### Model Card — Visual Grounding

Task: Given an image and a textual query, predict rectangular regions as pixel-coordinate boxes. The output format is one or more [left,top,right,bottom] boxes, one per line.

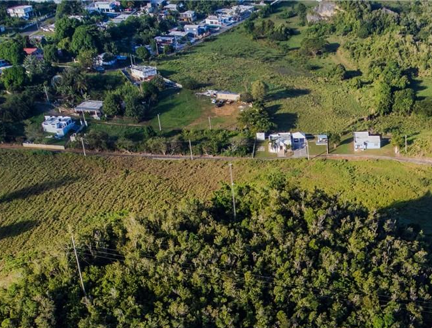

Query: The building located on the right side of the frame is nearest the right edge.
[351,129,382,150]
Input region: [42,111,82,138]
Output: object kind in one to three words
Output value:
house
